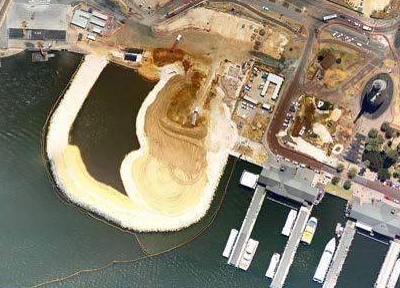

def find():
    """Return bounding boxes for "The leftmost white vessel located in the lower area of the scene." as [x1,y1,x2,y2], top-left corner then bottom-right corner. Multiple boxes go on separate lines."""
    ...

[223,230,237,256]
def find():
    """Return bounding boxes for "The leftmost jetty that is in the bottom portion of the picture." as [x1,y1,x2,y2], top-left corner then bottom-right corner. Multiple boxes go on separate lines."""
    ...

[229,186,265,266]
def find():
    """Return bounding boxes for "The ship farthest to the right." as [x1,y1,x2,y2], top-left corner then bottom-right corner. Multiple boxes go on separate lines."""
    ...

[387,260,400,288]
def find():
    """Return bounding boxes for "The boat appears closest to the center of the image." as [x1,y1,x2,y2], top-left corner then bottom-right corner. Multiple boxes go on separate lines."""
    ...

[238,170,259,188]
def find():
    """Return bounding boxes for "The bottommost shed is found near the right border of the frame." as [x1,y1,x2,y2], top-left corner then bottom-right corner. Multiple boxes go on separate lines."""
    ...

[348,196,400,240]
